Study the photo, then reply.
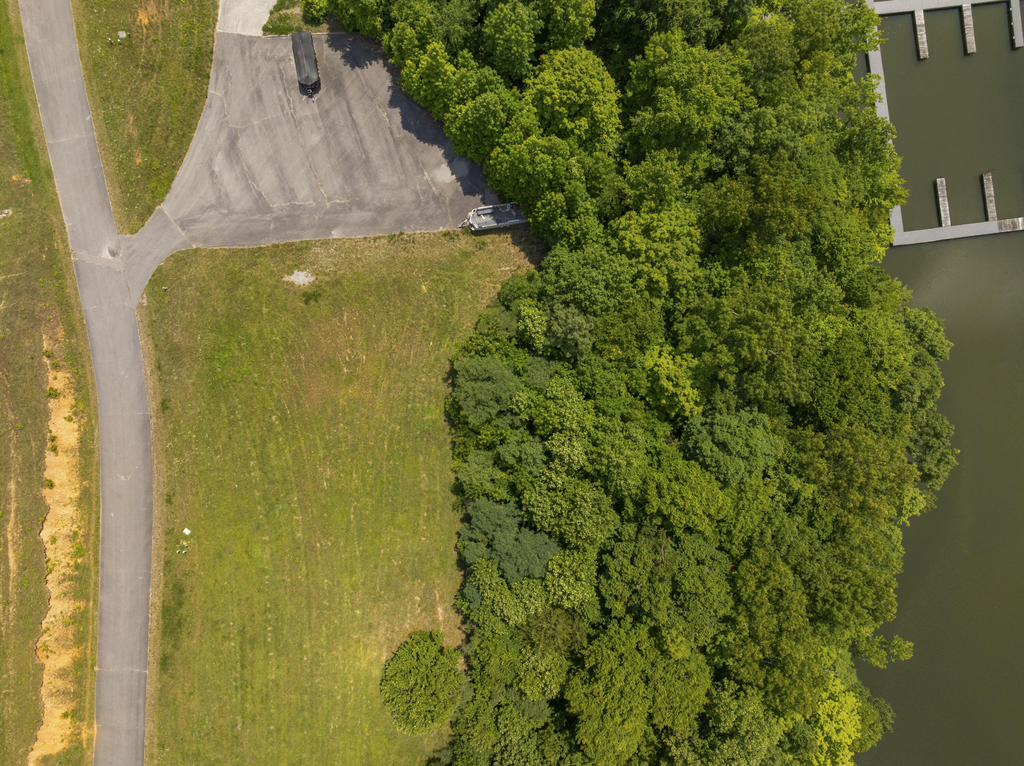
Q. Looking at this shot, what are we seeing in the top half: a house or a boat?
boat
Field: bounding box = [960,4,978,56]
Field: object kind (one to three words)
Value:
pier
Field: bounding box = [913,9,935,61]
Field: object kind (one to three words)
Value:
pier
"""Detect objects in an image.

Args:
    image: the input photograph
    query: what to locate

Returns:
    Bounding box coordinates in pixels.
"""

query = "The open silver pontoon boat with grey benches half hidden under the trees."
[469,200,527,231]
